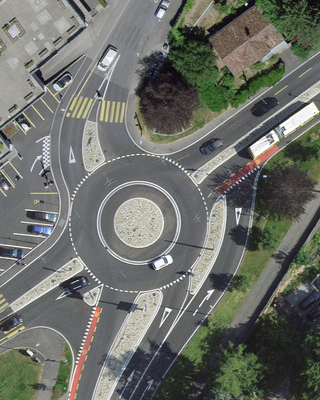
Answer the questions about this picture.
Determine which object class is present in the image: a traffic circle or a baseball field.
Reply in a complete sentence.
Of the two, only a traffic circle appears.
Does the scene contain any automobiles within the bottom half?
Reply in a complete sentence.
Yes, there is an automobile within the bottom half.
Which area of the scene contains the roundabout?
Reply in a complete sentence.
The roundabout sits in the center section of the image.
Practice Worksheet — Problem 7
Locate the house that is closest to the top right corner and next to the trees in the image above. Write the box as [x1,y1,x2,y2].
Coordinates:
[210,5,286,77]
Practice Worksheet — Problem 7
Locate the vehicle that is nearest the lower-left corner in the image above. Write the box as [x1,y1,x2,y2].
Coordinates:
[0,314,24,331]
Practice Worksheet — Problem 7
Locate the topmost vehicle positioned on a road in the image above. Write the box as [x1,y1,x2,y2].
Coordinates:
[154,0,170,20]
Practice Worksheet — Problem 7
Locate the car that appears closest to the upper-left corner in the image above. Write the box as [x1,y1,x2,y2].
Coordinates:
[53,72,74,90]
